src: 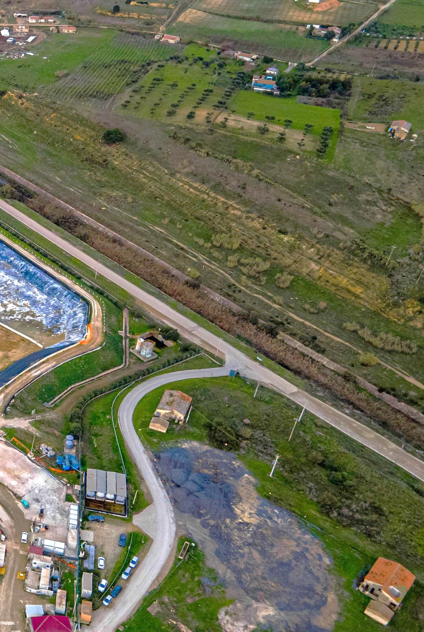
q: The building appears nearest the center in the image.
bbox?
[155,390,192,424]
